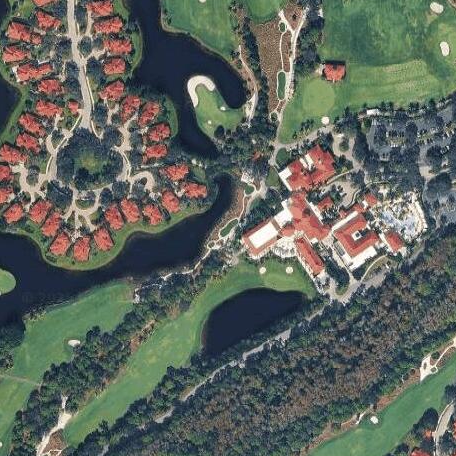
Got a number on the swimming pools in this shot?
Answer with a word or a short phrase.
one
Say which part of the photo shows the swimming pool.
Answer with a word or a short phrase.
right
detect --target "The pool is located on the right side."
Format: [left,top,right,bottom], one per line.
[370,190,428,242]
